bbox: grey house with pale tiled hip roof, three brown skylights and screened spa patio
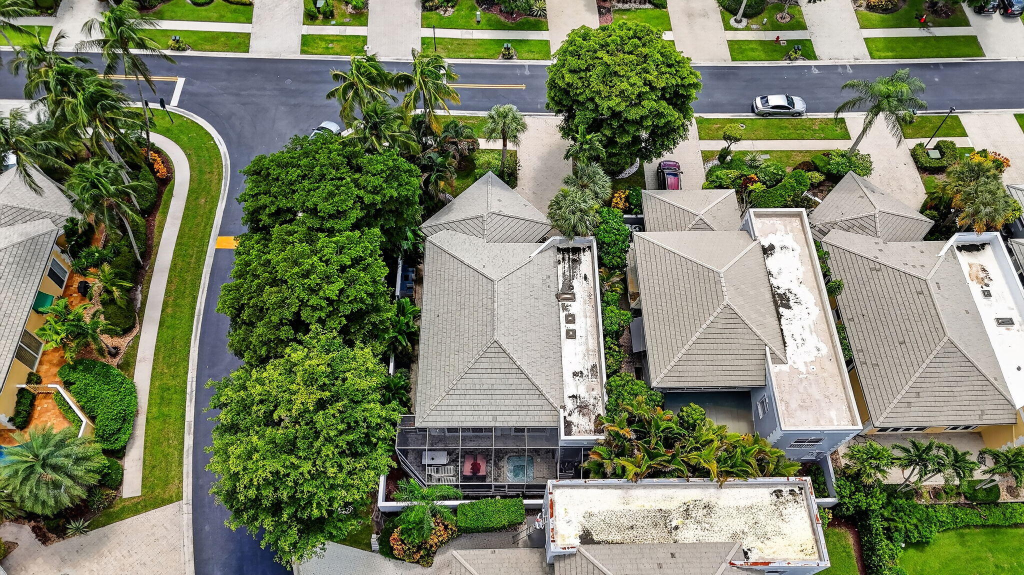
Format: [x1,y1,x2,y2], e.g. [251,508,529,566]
[411,170,606,458]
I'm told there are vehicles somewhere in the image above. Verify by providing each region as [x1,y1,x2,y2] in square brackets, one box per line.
[748,90,804,115]
[311,122,340,141]
[973,0,1002,12]
[1001,0,1024,14]
[655,161,683,189]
